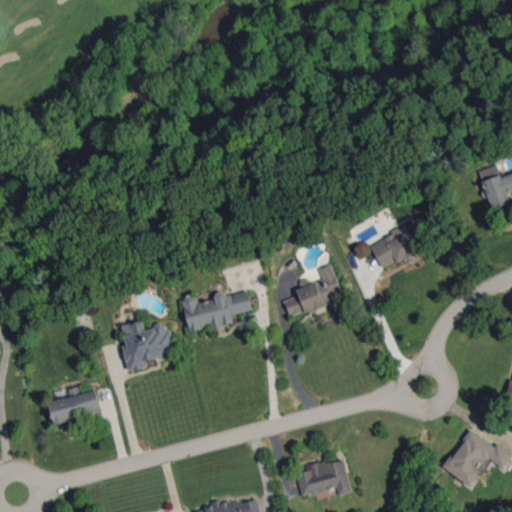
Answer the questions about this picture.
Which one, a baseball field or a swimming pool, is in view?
swimming pool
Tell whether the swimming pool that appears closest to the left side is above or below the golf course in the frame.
below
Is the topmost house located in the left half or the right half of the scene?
right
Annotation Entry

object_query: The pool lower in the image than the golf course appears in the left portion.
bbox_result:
[137,292,166,315]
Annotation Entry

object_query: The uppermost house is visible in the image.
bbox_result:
[478,166,512,207]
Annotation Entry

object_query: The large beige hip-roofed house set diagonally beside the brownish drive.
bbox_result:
[443,432,512,490]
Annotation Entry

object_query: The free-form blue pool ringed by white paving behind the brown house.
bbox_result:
[303,246,324,270]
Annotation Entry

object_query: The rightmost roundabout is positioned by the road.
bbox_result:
[394,352,456,419]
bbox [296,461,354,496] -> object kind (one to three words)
house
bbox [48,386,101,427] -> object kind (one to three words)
house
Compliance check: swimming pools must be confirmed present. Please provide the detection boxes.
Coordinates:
[504,156,512,172]
[137,292,166,315]
[303,246,324,270]
[355,224,378,242]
